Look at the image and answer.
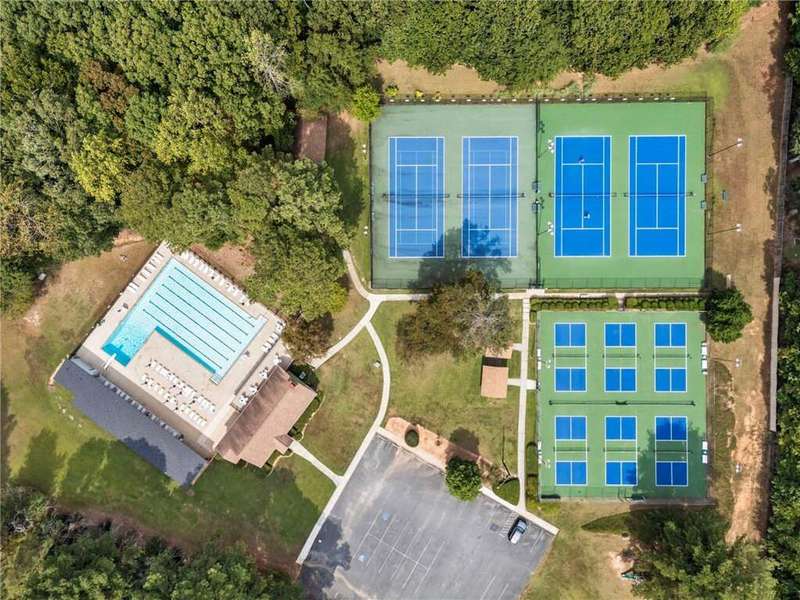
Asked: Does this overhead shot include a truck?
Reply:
No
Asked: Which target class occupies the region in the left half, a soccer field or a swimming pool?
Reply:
swimming pool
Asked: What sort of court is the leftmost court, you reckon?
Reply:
tennis court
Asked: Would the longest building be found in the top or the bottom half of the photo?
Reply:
bottom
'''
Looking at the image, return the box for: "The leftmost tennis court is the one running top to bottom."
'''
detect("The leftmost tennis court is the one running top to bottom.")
[370,103,454,288]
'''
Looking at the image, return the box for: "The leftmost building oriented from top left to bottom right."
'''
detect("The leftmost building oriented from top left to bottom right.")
[52,355,214,488]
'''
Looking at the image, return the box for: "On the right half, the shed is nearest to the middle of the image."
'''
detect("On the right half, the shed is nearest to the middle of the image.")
[480,365,509,398]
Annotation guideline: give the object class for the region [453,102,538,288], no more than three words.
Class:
tennis court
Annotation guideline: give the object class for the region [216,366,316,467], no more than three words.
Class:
building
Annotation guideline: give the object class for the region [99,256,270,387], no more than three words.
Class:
swimming pool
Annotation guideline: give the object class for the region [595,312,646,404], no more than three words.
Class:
sports court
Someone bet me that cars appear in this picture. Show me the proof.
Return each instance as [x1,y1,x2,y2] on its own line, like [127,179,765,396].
[509,520,528,546]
